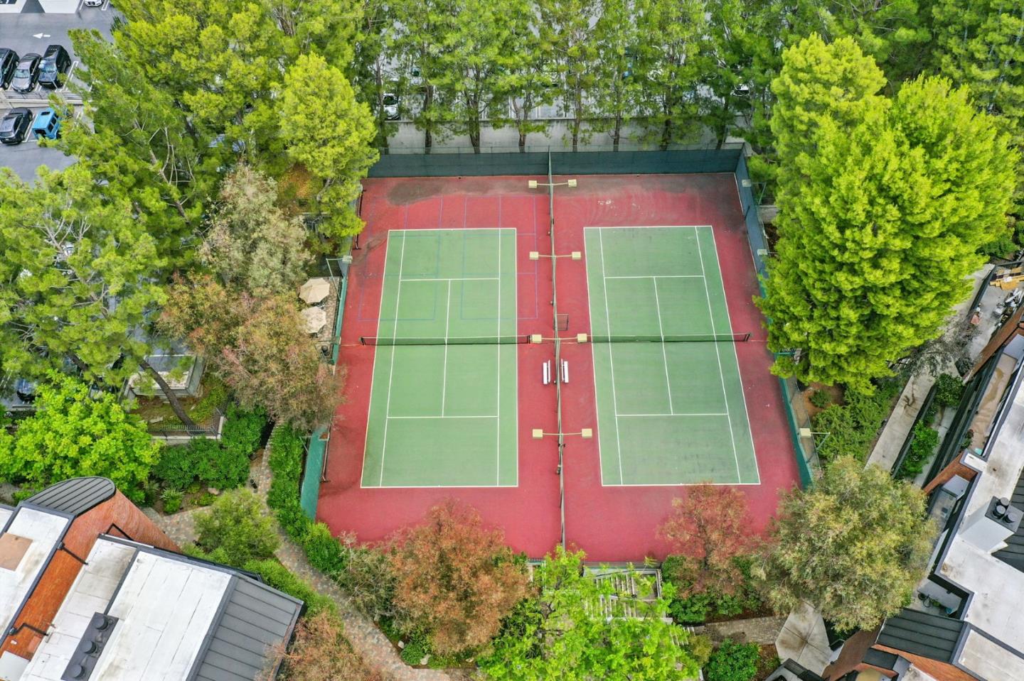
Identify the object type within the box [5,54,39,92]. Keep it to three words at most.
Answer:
car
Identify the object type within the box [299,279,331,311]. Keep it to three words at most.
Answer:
umbrella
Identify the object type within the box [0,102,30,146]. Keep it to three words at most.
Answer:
car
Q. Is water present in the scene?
No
